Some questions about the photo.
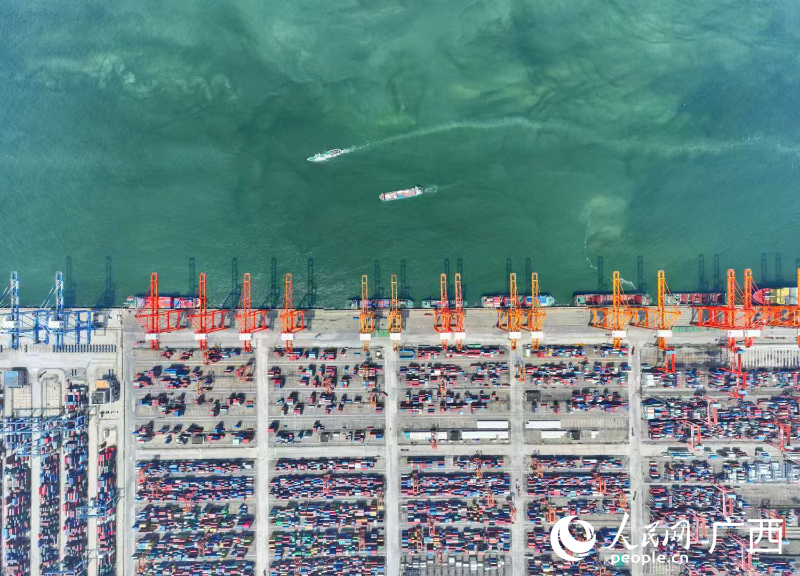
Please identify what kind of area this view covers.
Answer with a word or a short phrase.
port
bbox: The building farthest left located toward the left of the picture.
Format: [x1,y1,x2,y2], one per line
[4,370,25,385]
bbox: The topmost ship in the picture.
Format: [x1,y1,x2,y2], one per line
[307,148,341,162]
